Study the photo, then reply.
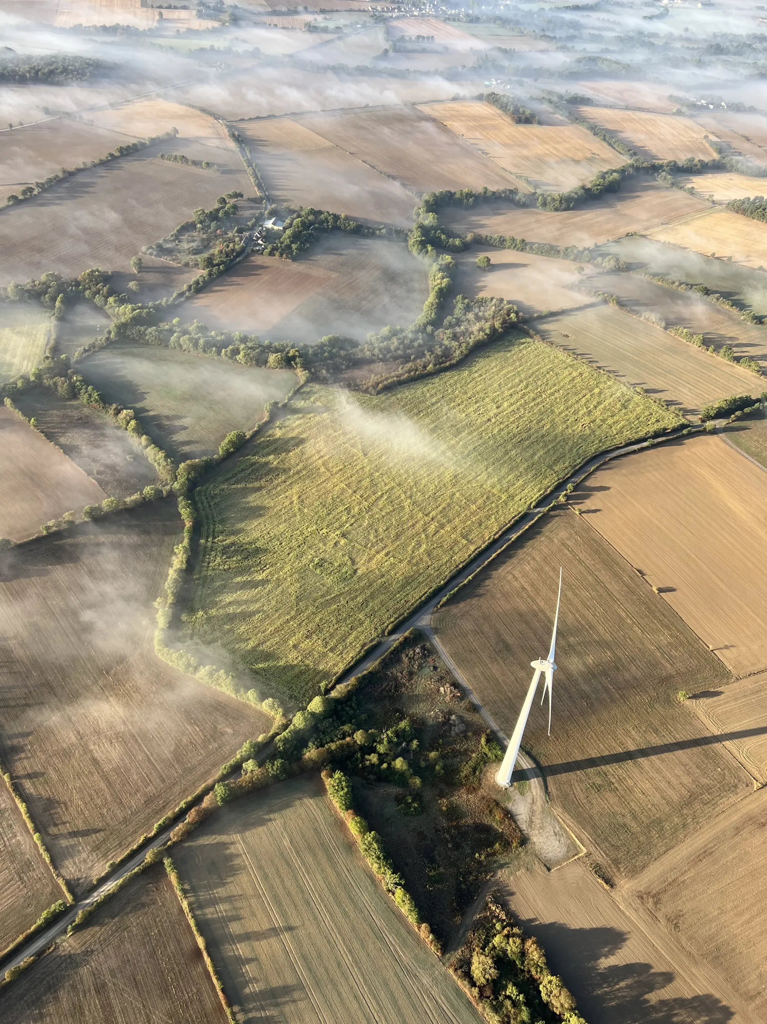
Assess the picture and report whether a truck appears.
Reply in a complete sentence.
No, no truck can be seen from above.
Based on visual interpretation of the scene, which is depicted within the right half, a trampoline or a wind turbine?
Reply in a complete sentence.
Looking within the right half, you will find a wind turbine.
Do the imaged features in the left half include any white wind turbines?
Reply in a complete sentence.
No, I can find no white wind turbine in the left half.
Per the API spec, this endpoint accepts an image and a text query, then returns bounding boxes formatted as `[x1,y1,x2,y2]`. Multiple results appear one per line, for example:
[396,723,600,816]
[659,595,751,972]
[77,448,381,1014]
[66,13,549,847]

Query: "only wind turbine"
[493,566,562,787]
